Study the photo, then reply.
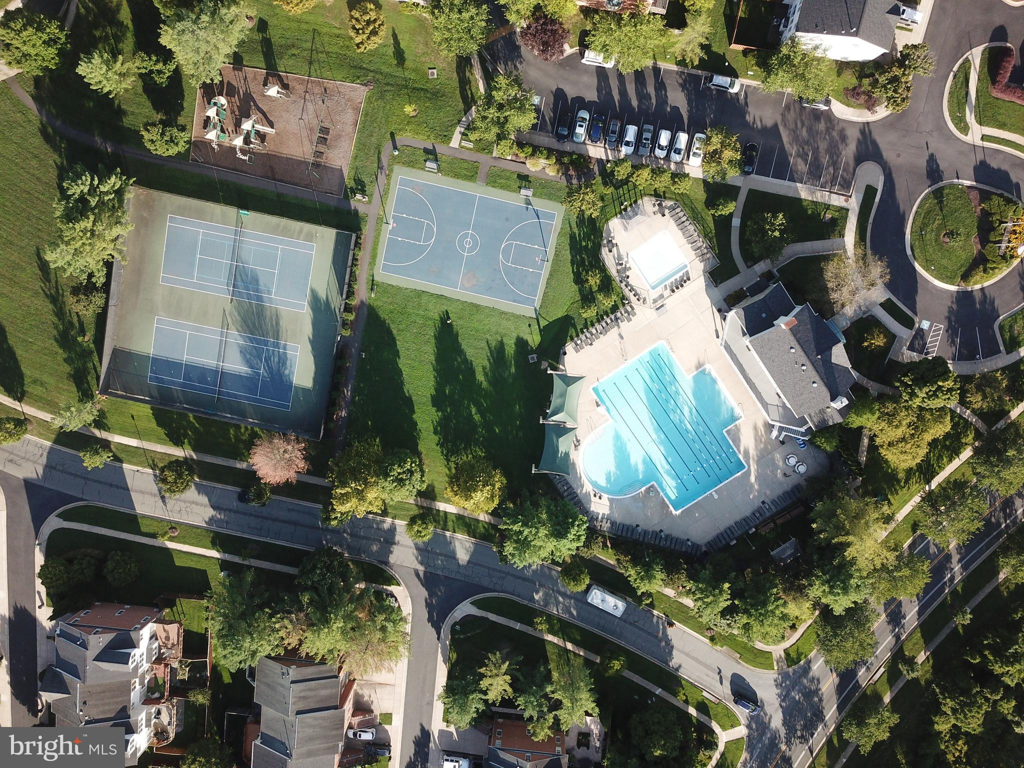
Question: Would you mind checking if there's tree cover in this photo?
Yes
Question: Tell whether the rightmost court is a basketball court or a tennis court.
basketball court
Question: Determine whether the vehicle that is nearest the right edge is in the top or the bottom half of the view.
top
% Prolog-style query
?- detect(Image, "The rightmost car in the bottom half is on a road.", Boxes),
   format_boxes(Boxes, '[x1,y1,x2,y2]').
[732,694,761,715]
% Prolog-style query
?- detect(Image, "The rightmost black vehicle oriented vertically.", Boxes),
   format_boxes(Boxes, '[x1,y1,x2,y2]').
[741,142,759,176]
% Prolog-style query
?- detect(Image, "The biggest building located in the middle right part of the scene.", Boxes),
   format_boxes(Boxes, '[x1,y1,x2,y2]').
[717,282,855,445]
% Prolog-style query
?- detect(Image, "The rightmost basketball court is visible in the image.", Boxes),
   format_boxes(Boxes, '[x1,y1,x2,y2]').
[374,166,565,318]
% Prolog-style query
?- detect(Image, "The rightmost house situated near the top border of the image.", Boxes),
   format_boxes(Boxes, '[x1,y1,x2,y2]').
[771,0,910,72]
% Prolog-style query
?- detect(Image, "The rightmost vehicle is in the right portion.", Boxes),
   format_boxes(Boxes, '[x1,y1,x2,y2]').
[907,6,928,27]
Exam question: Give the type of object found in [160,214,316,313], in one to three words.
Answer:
tennis court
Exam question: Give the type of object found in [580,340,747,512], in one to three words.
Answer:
swimming pool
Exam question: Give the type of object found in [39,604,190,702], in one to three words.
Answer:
house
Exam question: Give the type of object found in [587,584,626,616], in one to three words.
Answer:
trailer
